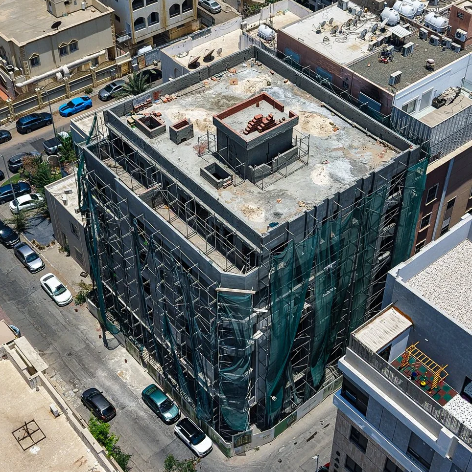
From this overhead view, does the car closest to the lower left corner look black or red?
black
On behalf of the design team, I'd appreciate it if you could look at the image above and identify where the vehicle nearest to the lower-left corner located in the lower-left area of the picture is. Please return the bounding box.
[78,387,121,423]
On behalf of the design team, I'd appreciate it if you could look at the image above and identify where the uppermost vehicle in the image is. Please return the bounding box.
[198,0,223,14]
